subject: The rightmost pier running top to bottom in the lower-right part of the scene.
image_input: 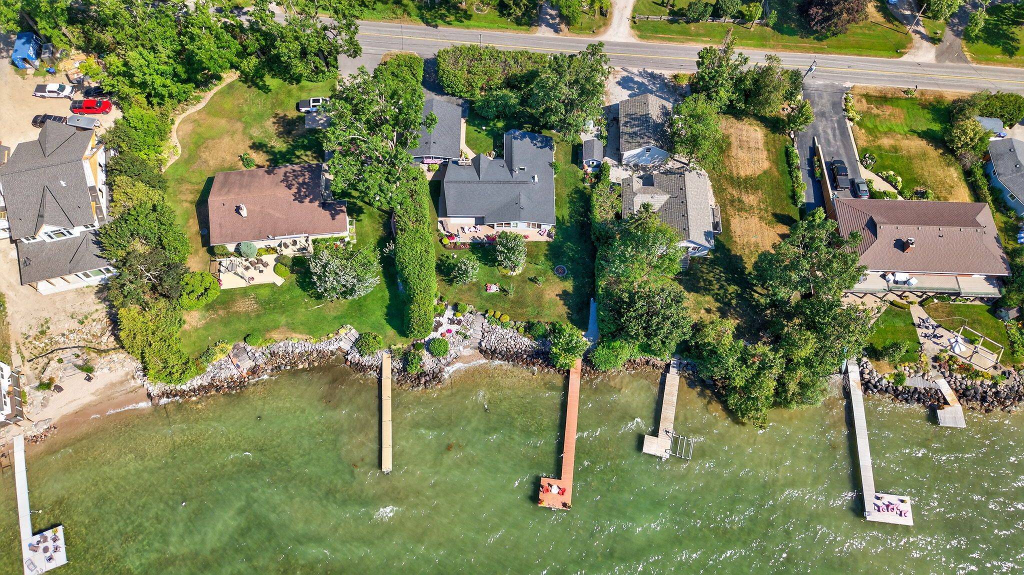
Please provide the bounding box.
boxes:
[846,364,914,526]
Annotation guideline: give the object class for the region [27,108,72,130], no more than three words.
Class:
truck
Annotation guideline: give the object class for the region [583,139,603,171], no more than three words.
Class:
shed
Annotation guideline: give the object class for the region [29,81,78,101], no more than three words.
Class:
vehicle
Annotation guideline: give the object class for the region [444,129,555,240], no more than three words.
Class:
house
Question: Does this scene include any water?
Yes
